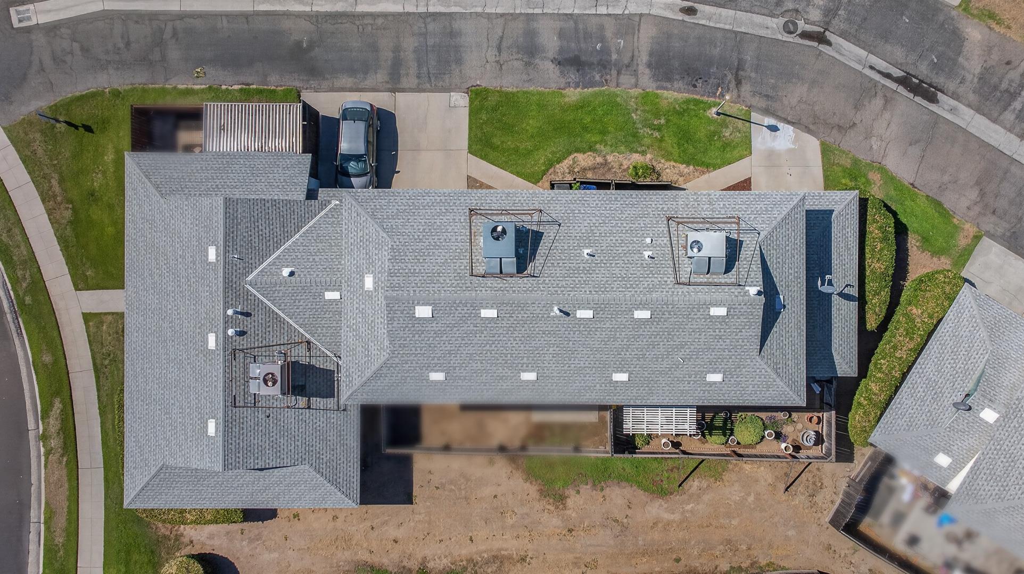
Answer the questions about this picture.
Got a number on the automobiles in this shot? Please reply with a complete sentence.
The photo contains exactly 1 automobile.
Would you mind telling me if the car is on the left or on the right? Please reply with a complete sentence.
The car sits on the left side.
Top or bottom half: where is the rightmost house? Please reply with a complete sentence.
Seen from above, the rightmost house lies in the bottom half of the view.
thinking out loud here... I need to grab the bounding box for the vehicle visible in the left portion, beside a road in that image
[331,102,380,189]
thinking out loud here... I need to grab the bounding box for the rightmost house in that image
[868,282,1024,544]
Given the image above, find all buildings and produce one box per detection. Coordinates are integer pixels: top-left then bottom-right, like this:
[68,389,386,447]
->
[868,282,1024,544]
[124,151,859,510]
